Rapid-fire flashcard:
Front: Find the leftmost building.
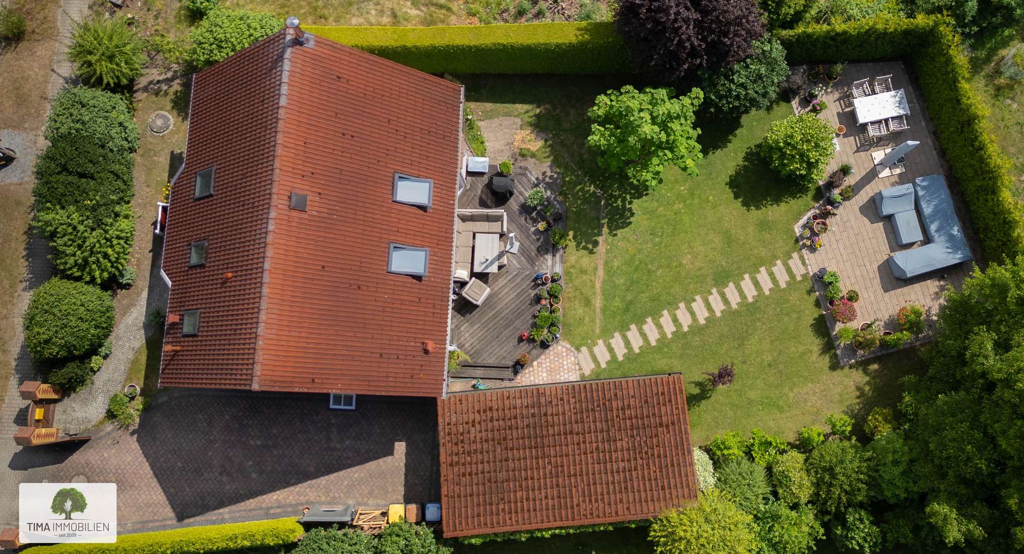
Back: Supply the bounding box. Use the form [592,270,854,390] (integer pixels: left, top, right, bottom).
[153,16,472,411]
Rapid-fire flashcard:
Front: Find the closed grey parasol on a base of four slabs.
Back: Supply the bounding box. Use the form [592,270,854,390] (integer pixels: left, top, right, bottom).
[872,144,919,176]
